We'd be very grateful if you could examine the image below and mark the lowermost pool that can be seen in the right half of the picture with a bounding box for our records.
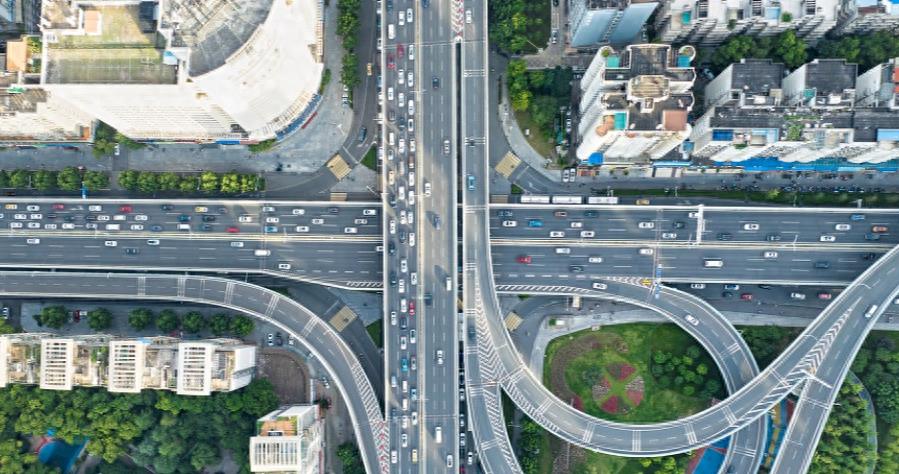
[614,112,626,130]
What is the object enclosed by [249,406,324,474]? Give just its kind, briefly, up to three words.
building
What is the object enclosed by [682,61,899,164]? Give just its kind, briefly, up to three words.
building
